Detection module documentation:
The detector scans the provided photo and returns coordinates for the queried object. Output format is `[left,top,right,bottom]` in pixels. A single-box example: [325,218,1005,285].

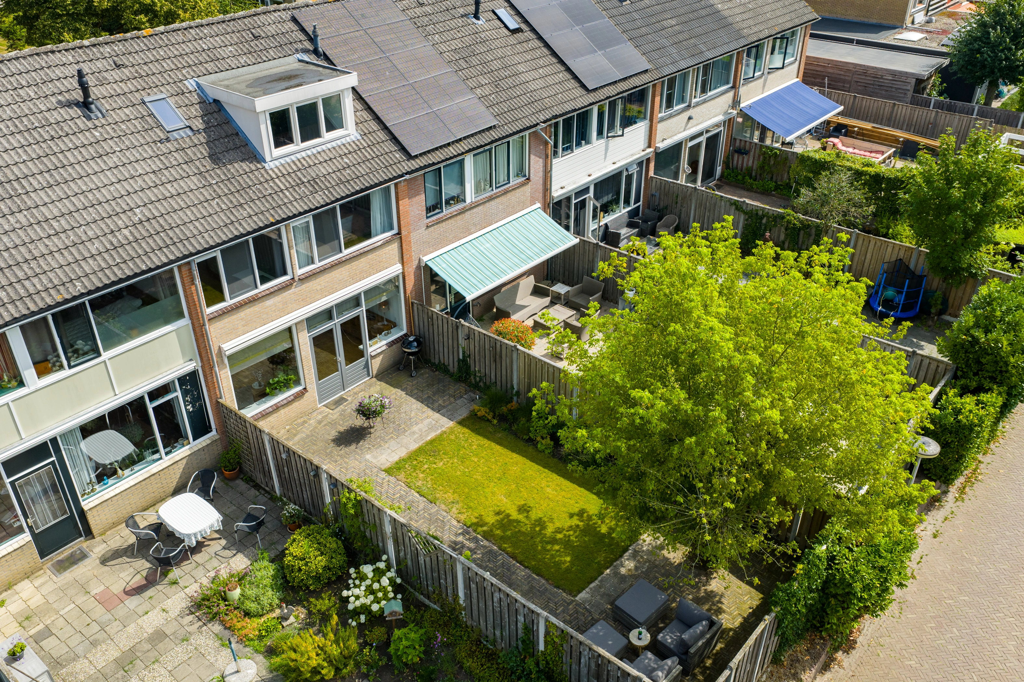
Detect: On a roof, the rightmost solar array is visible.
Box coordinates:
[510,0,653,91]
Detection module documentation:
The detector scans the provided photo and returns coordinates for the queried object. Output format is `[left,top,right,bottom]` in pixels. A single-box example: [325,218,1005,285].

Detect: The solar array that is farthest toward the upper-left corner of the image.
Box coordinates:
[294,0,501,157]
